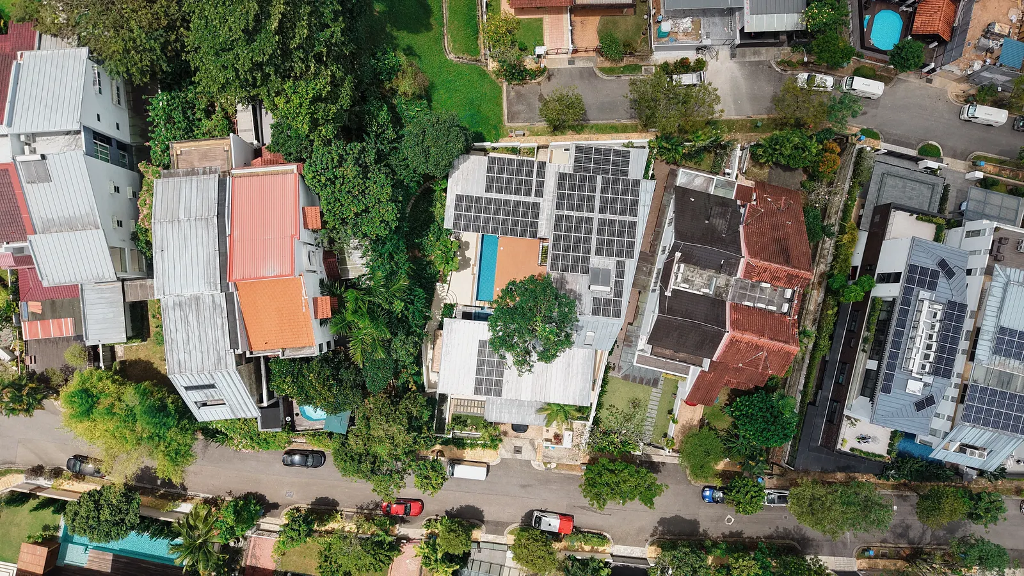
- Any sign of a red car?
Yes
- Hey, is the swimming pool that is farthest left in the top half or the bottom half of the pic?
bottom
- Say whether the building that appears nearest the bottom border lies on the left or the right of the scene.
left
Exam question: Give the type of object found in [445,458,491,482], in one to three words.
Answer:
vehicle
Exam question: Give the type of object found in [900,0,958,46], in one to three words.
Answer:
building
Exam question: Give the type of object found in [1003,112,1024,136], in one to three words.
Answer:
car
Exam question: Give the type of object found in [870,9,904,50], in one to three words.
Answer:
swimming pool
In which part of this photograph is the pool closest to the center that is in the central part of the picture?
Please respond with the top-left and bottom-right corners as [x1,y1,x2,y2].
[470,234,497,306]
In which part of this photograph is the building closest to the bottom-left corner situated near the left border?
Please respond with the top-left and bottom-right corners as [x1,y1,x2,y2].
[16,534,72,576]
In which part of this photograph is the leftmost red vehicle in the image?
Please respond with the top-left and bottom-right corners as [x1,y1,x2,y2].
[381,496,426,518]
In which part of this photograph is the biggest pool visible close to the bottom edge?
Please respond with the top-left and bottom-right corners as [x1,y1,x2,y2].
[56,513,188,567]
